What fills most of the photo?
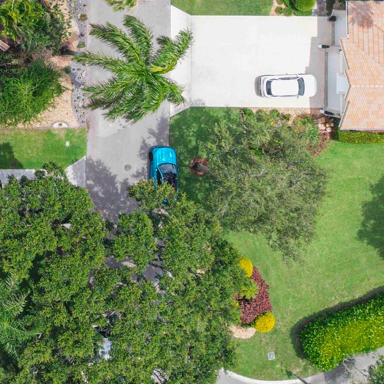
trees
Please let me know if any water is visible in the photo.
No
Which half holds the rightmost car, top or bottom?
top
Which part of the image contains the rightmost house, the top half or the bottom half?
top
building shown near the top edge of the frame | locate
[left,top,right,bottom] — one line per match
[323,0,384,130]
